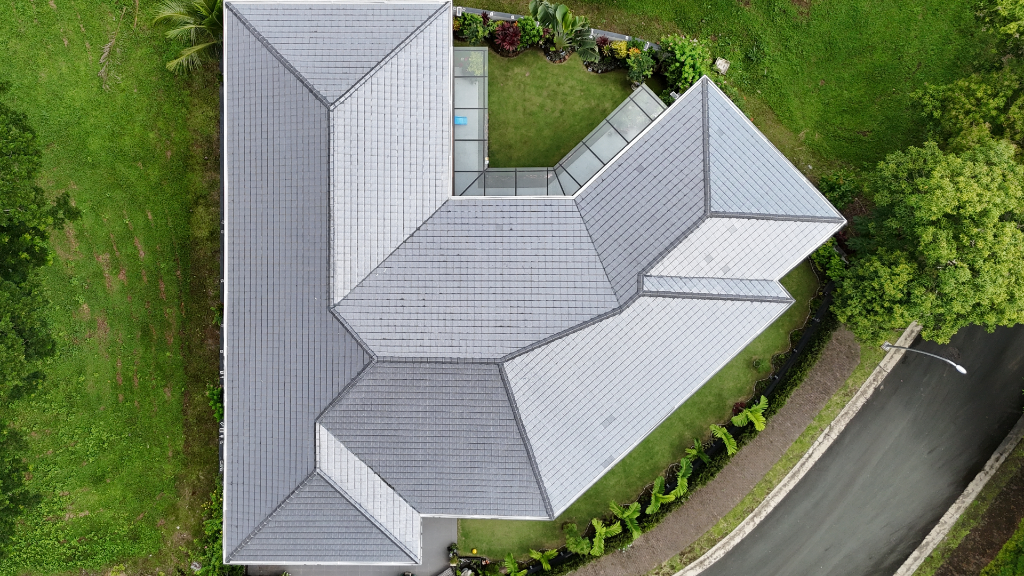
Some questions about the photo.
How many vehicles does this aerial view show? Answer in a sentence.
There are no vehicles in the image.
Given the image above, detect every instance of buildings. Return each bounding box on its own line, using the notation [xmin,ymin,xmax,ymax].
[223,0,846,564]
